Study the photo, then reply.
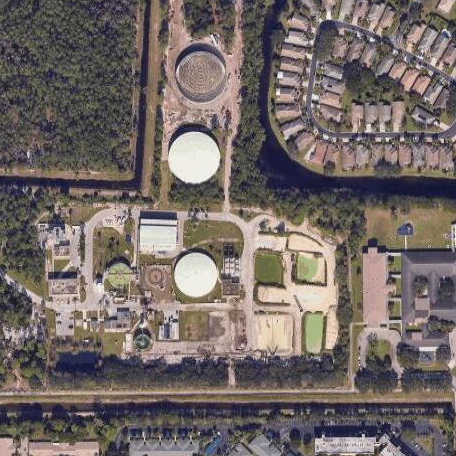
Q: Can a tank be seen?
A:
Yes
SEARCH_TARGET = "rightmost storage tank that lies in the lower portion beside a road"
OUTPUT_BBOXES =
[174,253,218,297]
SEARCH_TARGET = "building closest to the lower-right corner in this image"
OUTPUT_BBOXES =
[375,435,407,456]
